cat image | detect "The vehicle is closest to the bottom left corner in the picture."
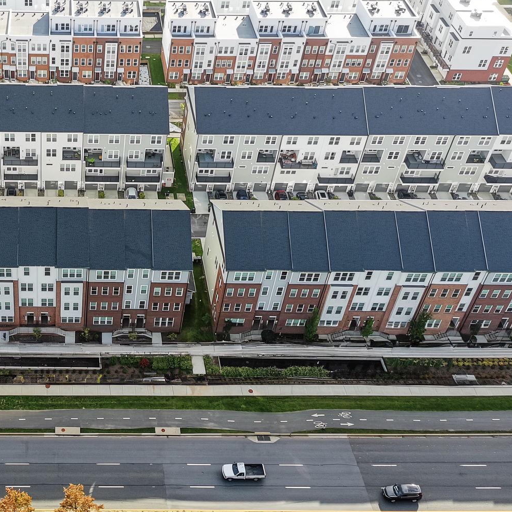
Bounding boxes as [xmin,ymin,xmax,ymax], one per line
[222,462,268,481]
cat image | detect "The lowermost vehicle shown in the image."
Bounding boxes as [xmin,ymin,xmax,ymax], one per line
[382,484,425,503]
